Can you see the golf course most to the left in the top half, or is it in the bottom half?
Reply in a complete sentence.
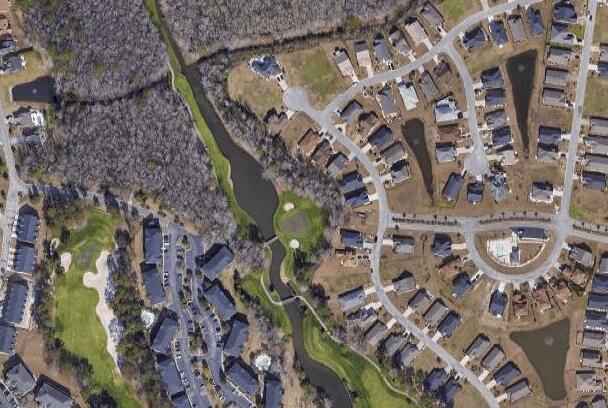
The golf course most to the left is in the bottom half of the image.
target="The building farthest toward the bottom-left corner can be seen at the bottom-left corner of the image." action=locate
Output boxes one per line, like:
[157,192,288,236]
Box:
[0,357,41,396]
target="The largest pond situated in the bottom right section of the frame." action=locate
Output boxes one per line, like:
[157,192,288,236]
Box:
[510,316,569,399]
